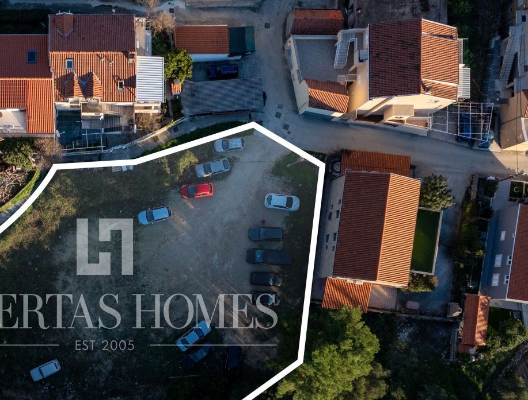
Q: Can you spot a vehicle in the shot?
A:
Yes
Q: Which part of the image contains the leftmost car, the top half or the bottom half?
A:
bottom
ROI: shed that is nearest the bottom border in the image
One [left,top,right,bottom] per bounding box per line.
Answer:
[452,293,491,354]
